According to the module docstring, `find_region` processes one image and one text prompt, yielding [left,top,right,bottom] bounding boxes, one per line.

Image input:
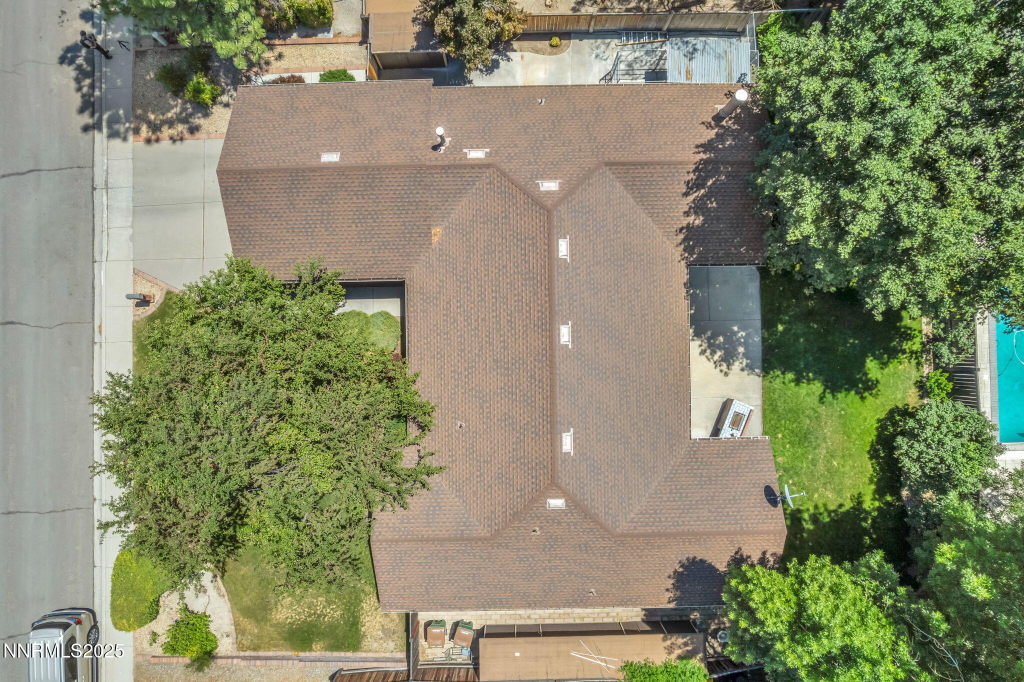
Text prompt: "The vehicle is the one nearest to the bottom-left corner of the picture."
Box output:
[26,604,101,682]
